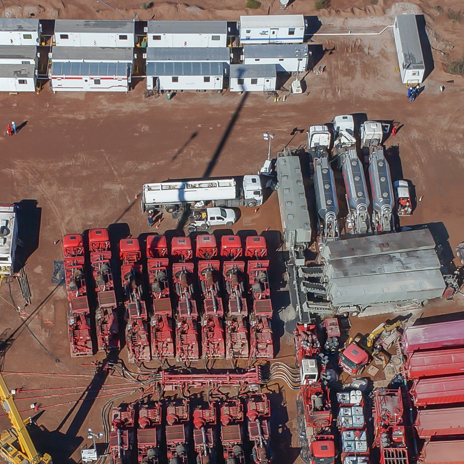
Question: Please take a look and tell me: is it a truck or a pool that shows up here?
truck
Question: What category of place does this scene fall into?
industrial area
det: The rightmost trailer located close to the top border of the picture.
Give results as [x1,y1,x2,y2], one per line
[393,13,425,89]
